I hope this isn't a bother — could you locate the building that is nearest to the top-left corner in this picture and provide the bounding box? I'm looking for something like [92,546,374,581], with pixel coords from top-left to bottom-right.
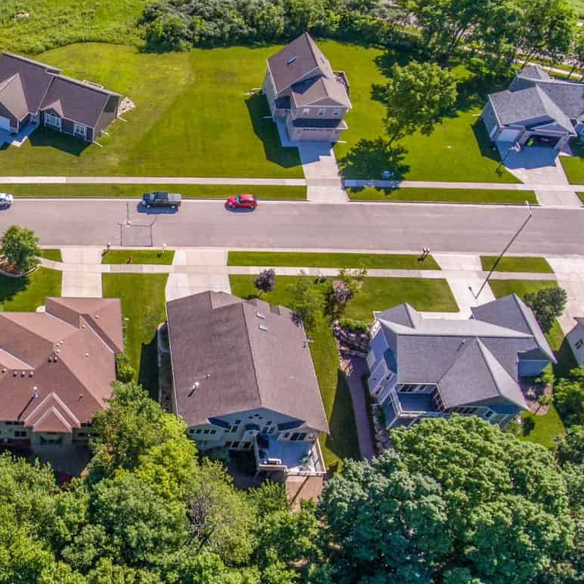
[0,49,125,148]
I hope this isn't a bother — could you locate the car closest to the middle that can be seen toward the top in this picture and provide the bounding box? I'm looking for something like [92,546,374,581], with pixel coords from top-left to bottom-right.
[227,195,258,210]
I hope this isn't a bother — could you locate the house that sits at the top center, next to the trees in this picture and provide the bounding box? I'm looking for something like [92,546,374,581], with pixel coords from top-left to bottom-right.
[250,32,353,141]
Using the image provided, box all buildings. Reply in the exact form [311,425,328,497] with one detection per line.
[0,49,125,148]
[482,64,584,150]
[373,292,557,432]
[0,296,123,453]
[250,32,353,141]
[165,290,330,490]
[565,317,584,362]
